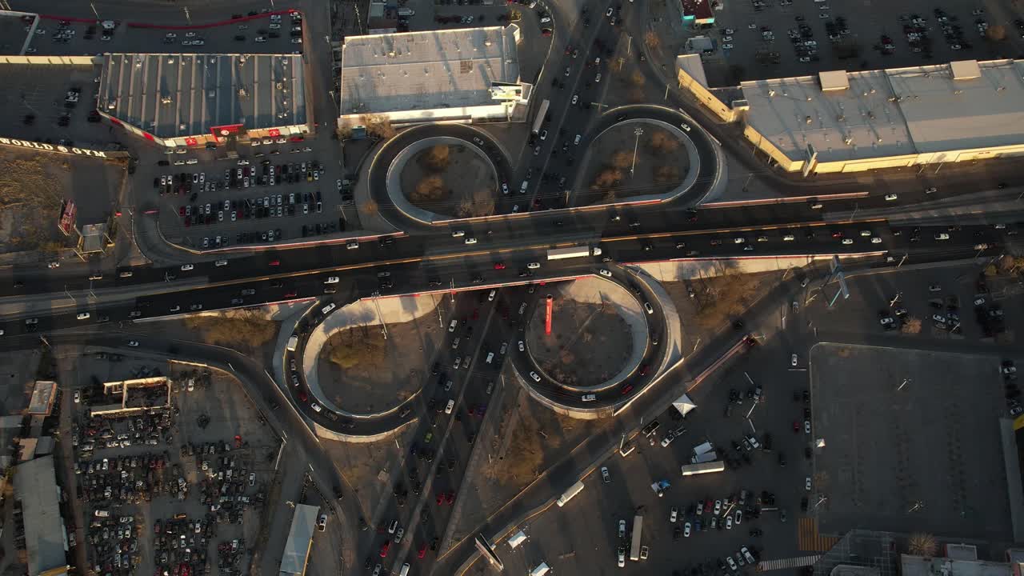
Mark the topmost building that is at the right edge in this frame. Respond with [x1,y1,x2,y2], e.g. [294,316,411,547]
[740,59,1024,175]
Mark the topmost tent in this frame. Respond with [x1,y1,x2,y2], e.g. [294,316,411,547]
[669,392,697,419]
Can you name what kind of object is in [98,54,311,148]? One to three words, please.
building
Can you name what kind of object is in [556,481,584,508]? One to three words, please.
truck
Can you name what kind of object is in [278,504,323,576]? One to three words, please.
building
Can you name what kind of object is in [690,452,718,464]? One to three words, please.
vehicle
